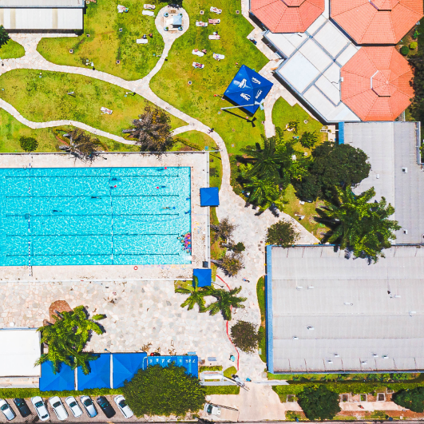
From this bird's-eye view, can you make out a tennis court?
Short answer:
No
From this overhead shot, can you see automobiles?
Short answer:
Yes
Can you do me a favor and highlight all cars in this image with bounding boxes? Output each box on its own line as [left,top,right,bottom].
[79,394,98,420]
[64,395,83,421]
[0,398,17,424]
[47,395,69,423]
[94,395,117,422]
[114,396,134,420]
[30,395,49,424]
[11,398,31,421]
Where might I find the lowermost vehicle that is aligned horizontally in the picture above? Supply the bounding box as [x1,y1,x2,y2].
[207,406,246,424]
